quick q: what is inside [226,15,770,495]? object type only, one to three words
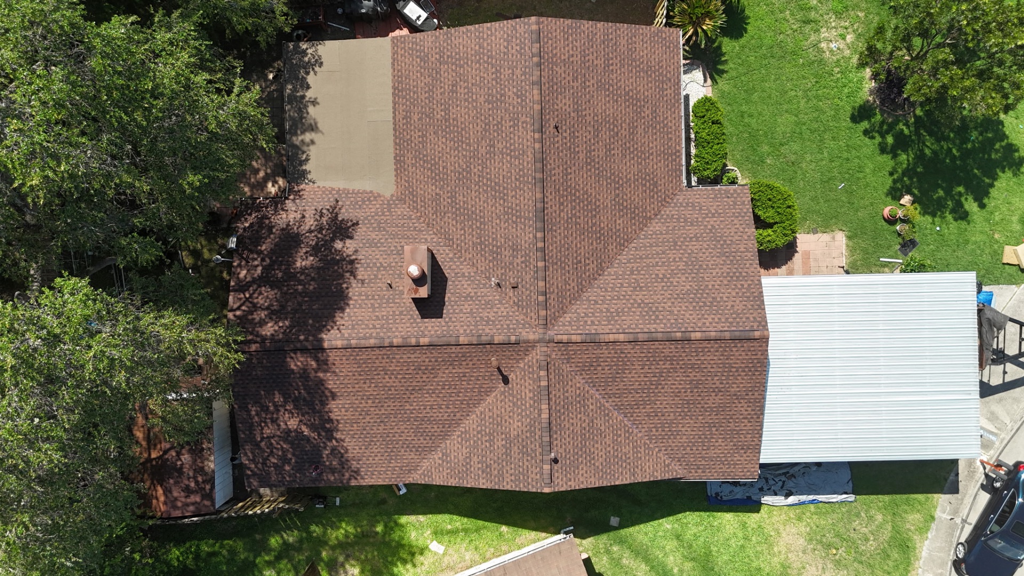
house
